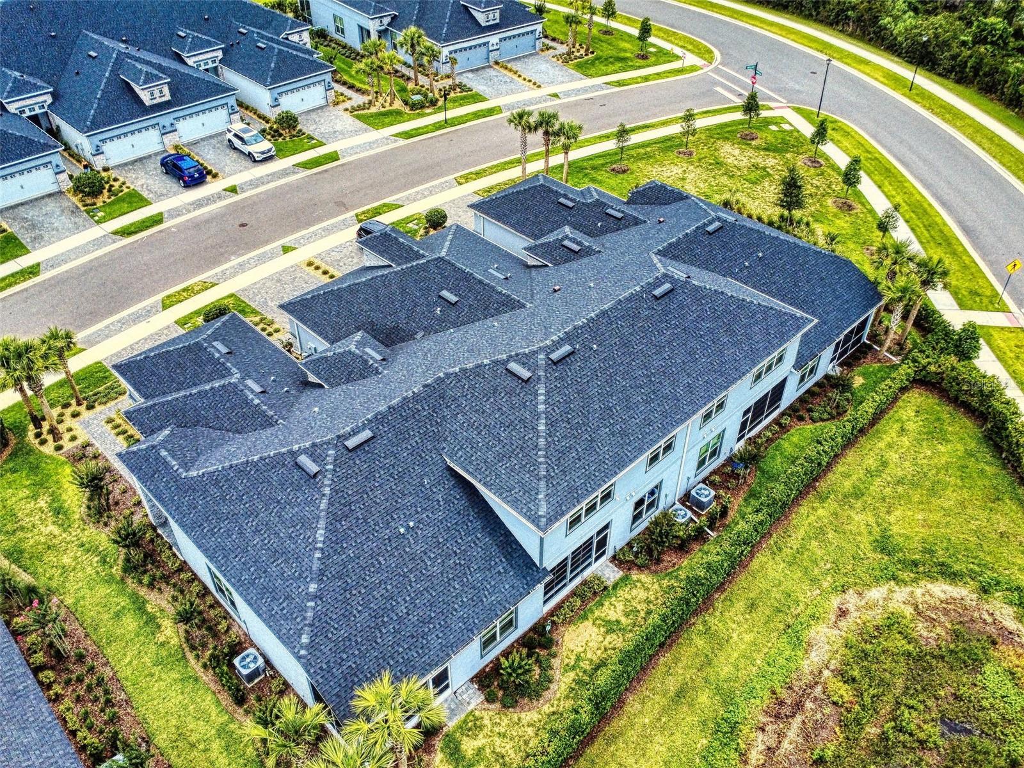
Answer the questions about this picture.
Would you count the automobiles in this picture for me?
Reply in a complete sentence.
Looking from above, you can make out 3 automobiles.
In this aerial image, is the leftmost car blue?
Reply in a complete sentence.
Yes, the leftmost car appears blue.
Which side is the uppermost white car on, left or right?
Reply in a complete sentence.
The uppermost white car is on the left side of the image.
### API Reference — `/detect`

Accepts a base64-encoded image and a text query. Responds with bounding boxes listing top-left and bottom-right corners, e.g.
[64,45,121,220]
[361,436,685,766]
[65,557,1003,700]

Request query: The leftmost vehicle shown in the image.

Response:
[156,153,208,187]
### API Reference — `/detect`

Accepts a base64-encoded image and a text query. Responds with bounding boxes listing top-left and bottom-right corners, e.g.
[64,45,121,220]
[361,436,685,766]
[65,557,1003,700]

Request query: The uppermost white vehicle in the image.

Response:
[223,121,277,163]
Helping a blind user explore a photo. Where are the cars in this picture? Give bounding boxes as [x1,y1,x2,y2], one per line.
[156,153,208,187]
[223,121,277,163]
[357,215,404,239]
